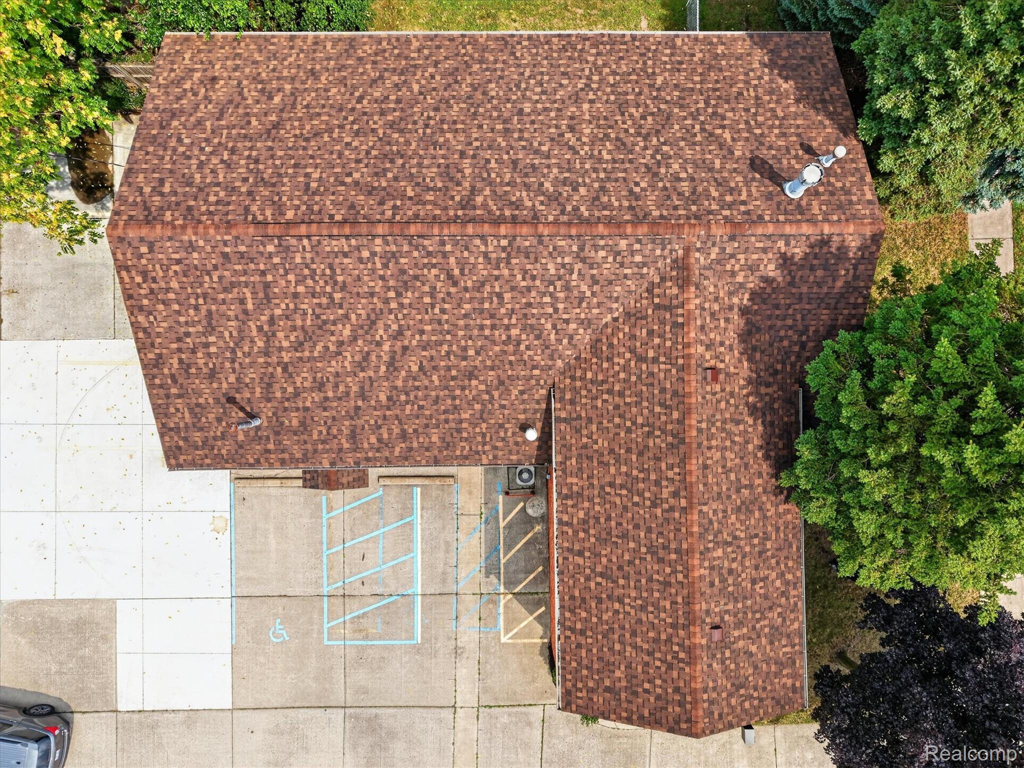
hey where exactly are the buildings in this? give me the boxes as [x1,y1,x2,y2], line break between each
[105,30,885,744]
